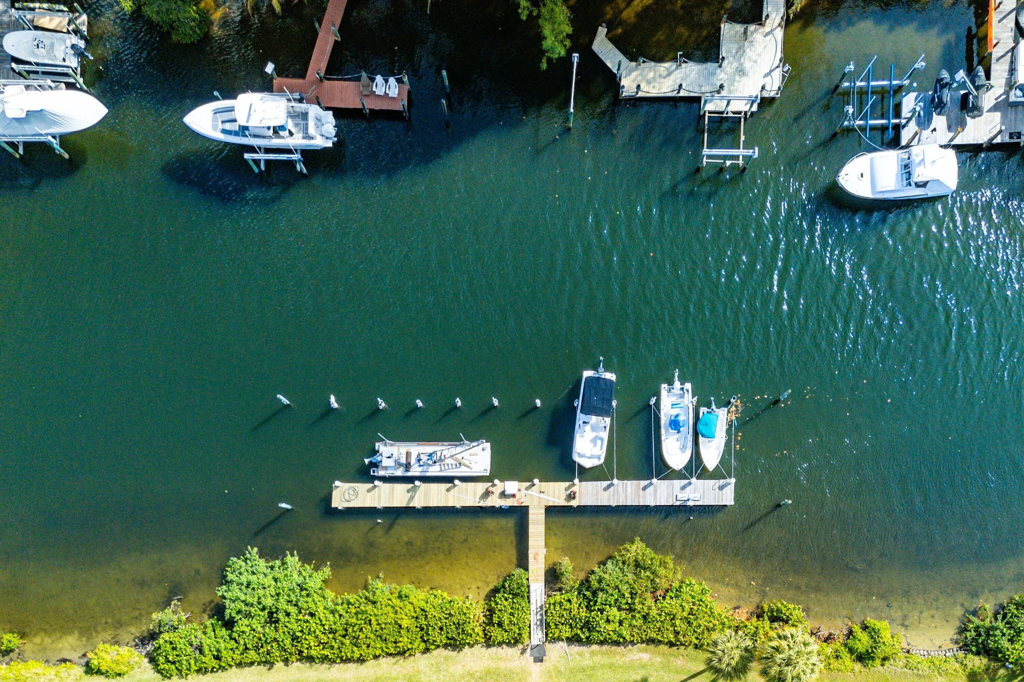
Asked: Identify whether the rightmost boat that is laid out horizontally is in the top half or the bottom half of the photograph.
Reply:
top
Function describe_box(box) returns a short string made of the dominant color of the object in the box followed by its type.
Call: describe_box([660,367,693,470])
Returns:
white boat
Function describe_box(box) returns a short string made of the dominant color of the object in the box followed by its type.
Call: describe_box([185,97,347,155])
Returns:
white boat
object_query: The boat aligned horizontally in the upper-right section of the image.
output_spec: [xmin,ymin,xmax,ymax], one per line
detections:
[832,143,963,200]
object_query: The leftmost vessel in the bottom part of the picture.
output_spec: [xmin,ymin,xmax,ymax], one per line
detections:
[363,432,491,477]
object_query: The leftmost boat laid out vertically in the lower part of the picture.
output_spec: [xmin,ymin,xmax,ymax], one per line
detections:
[574,356,617,468]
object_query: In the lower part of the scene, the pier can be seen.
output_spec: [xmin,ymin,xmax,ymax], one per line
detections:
[332,477,737,646]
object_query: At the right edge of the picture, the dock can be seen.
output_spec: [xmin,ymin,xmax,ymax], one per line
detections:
[895,0,1024,153]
